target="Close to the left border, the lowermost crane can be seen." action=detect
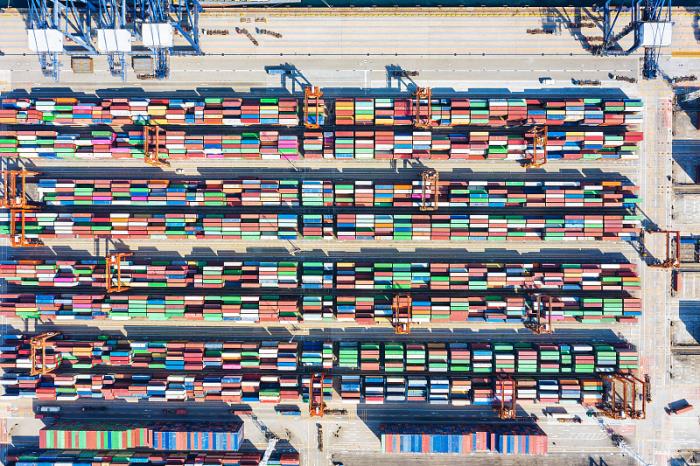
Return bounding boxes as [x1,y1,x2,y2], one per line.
[29,330,66,376]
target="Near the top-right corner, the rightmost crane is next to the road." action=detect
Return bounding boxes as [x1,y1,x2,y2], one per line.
[598,0,679,84]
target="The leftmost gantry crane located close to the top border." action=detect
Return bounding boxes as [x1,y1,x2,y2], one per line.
[27,0,107,85]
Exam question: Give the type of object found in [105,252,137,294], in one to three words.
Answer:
crane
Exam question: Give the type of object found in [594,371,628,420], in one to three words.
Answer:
crane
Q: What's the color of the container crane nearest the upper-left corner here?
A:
white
